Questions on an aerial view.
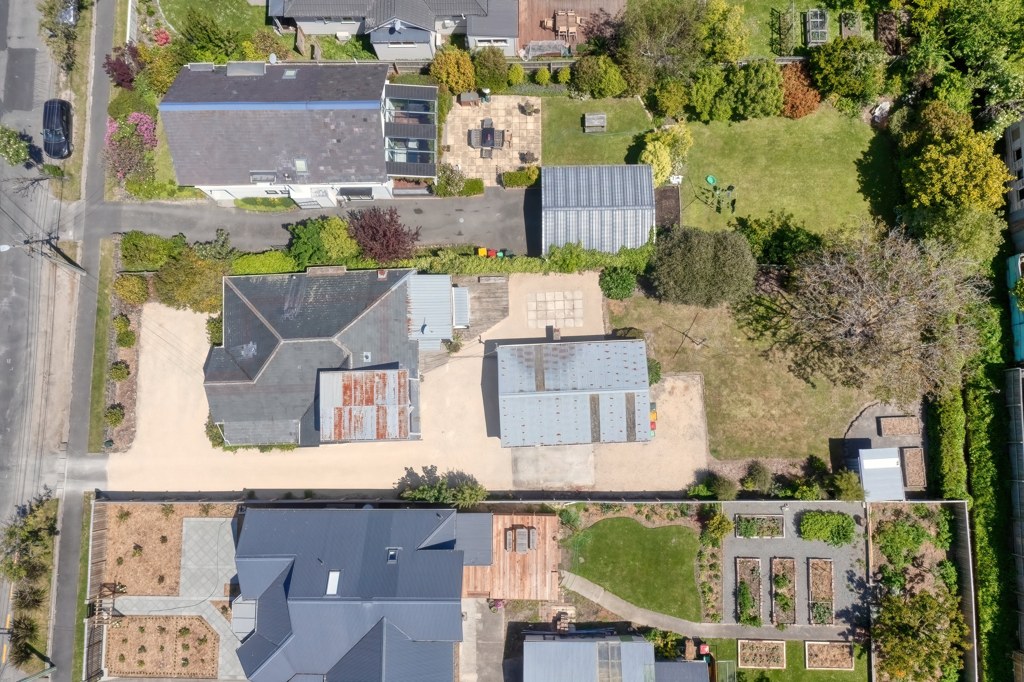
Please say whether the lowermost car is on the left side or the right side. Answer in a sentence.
The lowermost car is on the left side of the image.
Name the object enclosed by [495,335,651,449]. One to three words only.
building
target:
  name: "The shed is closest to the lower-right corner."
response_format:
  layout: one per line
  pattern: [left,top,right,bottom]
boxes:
[845,448,905,502]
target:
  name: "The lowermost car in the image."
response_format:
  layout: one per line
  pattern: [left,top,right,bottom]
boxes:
[39,97,77,161]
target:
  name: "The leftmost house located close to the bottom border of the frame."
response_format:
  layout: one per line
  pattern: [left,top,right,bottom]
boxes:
[230,508,494,682]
